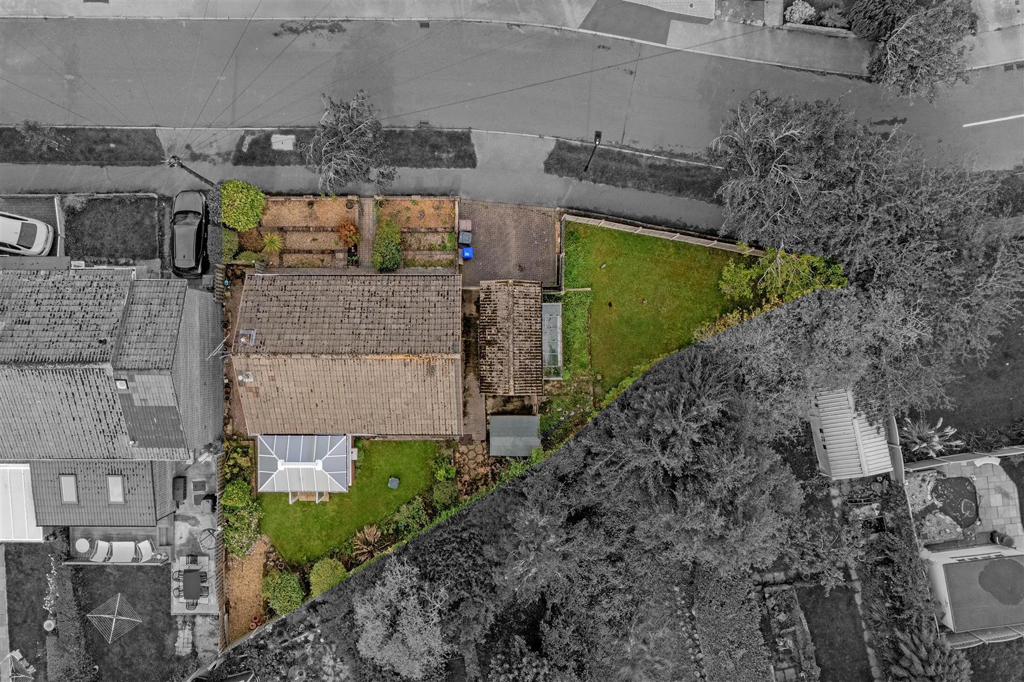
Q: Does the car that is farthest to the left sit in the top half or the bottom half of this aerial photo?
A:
top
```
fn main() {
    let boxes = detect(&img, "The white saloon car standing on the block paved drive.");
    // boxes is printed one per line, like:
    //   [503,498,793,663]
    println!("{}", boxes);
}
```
[0,212,58,257]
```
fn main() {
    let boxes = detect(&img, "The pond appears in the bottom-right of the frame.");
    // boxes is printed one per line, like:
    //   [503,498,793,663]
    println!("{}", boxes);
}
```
[931,476,977,528]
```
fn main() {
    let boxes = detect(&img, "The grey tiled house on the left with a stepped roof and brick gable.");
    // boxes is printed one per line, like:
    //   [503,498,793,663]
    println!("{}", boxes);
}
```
[0,257,218,460]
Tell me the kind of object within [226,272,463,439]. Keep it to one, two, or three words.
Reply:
house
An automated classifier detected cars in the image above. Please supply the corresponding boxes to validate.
[0,212,58,257]
[167,190,213,278]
